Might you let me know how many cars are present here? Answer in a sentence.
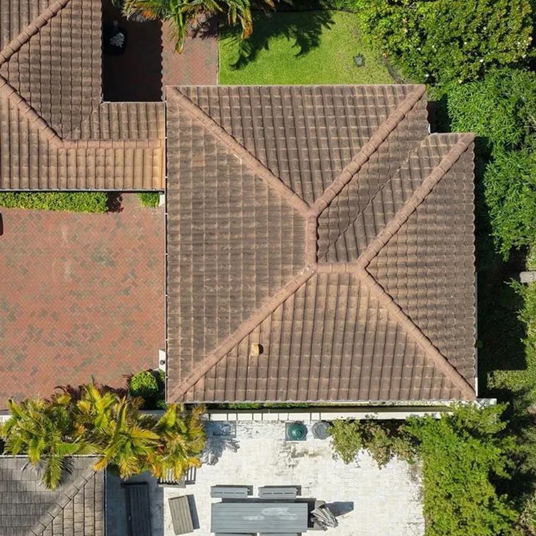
I count no cars.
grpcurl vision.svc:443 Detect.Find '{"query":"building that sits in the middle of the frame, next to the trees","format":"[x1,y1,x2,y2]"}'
[161,81,480,405]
